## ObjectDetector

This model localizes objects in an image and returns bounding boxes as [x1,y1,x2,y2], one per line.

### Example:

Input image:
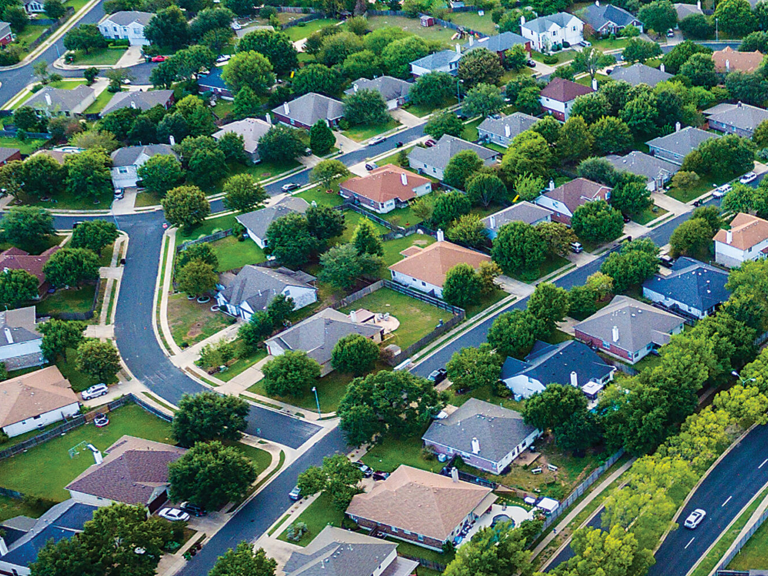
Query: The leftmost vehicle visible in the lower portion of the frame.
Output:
[81,382,110,400]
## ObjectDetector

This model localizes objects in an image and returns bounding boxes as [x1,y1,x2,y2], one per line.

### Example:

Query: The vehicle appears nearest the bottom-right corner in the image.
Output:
[684,508,705,529]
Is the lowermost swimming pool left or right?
right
